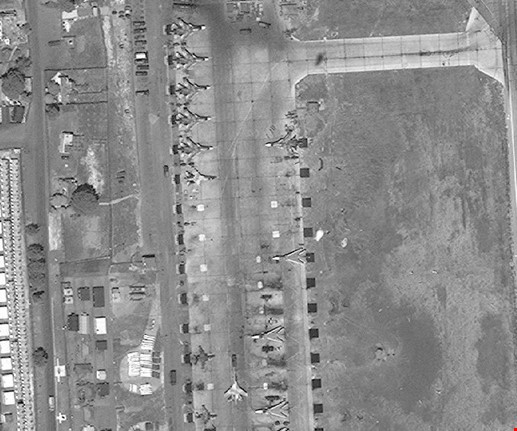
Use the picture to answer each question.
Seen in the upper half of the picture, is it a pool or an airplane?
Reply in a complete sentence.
What appears in the upper half of the picture is an airplane.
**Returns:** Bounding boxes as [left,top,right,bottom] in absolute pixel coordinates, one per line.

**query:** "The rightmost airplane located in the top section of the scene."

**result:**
[267,132,299,153]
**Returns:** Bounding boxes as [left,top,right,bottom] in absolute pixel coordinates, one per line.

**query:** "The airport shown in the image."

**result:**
[172,0,517,431]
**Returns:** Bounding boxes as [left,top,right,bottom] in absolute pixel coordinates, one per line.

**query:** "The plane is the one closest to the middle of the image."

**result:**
[274,248,307,264]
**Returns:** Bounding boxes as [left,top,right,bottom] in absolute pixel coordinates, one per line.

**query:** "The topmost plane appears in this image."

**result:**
[172,18,204,39]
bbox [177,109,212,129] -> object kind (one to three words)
airplane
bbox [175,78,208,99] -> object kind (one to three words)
airplane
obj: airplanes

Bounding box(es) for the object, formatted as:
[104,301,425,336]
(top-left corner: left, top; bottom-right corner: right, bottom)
[255,403,289,419]
[274,248,307,264]
[179,138,212,159]
[192,346,216,367]
[175,78,208,99]
[182,167,217,188]
[195,405,219,426]
[267,132,299,153]
[253,327,286,343]
[173,49,208,70]
[172,18,204,39]
[177,109,212,129]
